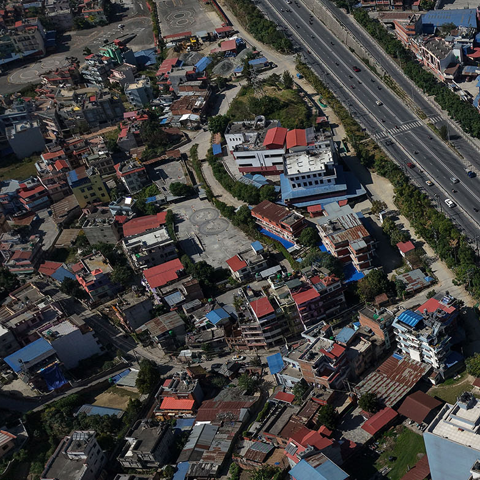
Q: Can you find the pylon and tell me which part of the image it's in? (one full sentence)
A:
The pylon is in the top part of the image.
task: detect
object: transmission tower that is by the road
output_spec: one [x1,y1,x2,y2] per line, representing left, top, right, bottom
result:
[242,61,264,101]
